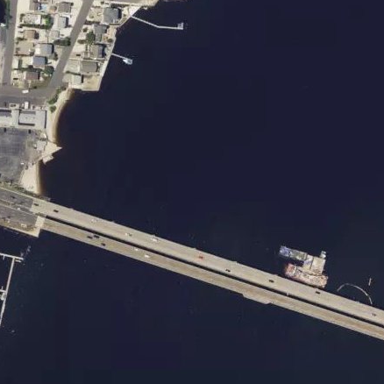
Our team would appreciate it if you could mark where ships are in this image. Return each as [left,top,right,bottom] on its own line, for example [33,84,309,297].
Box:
[302,255,313,270]
[311,257,325,275]
[285,263,328,287]
[279,245,307,261]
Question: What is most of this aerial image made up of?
water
